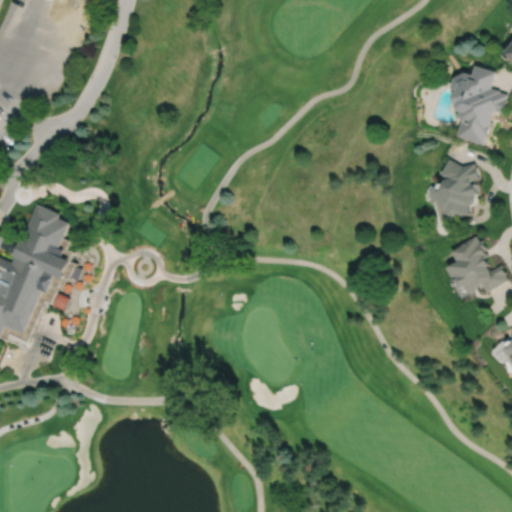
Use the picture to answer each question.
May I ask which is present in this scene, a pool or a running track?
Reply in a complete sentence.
Of the two, only a pool appears.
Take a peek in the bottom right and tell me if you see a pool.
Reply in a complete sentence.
No, in the bottom right there is no pool.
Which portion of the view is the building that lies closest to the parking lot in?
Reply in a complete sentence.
The building that lies closest to the parking lot is in the left part of the image.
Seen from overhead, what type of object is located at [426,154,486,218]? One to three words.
house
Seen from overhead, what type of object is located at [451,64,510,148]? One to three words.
house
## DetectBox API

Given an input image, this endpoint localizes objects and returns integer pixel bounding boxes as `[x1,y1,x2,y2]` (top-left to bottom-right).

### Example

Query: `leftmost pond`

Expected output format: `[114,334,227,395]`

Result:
[58,418,218,512]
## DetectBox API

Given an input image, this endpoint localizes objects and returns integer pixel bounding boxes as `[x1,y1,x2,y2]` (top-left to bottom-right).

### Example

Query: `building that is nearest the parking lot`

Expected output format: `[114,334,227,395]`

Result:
[0,200,70,340]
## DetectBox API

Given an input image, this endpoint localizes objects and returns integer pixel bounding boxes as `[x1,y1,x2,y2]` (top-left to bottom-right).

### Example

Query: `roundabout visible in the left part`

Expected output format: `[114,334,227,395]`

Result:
[125,248,164,286]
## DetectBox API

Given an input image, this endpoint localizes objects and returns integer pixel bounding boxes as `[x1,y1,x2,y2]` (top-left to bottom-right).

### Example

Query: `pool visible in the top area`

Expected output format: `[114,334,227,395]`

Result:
[422,84,460,127]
